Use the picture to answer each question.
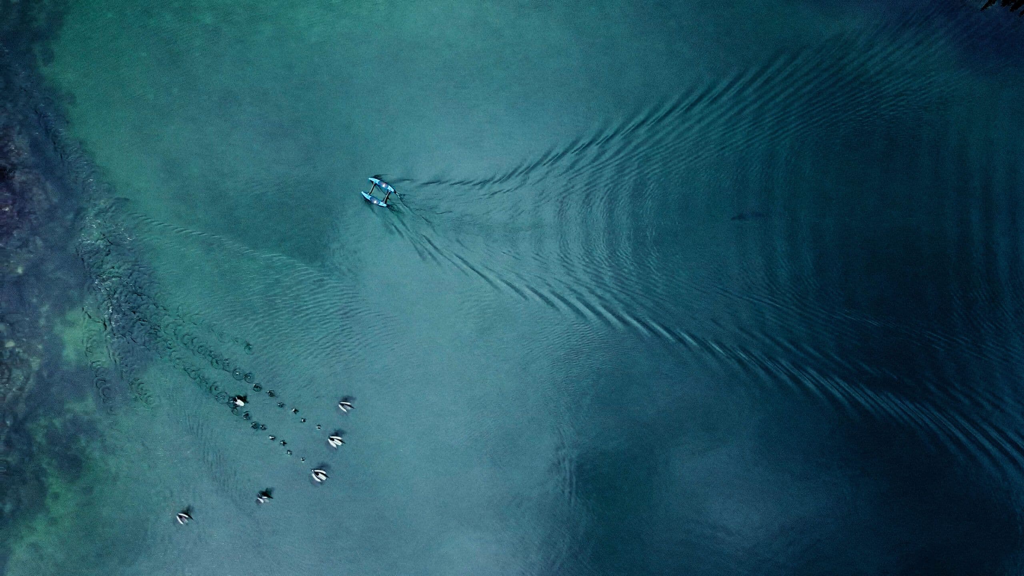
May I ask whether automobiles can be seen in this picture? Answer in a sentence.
No, the scene contains no automobile.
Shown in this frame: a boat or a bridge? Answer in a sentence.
The one in the frame is a boat.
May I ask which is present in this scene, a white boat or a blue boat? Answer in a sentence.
Of the two, only a blue boat appears.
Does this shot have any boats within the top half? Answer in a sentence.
Yes, the scene does show a boat within the top half.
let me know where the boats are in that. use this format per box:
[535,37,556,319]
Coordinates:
[361,177,400,206]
